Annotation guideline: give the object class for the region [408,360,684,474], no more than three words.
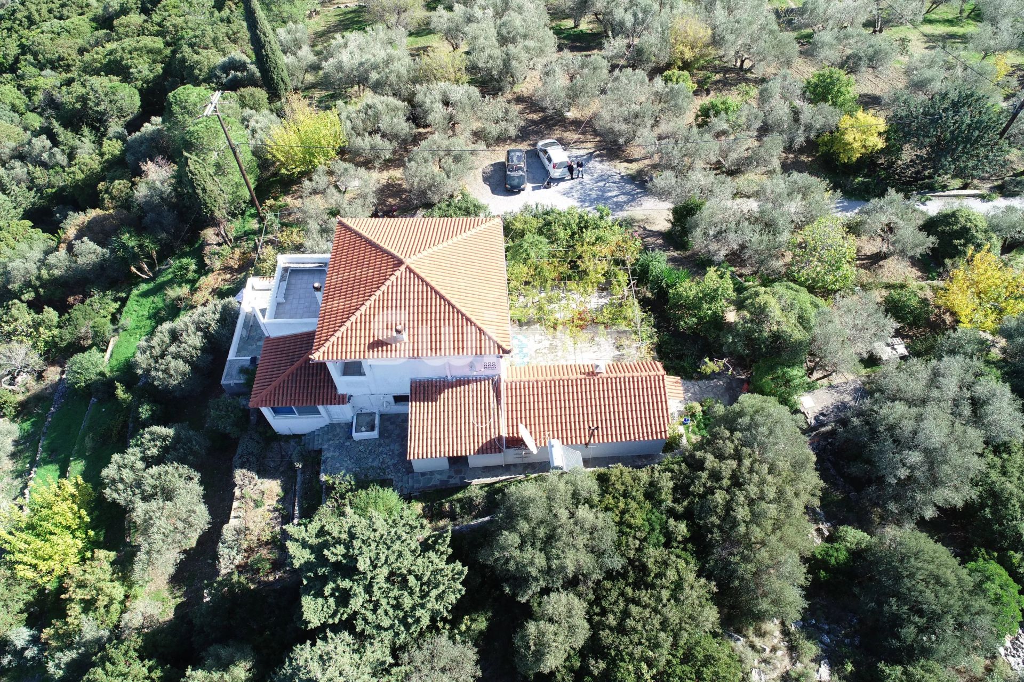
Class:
shed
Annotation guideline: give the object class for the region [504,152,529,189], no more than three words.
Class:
car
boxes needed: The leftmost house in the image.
[221,215,513,428]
